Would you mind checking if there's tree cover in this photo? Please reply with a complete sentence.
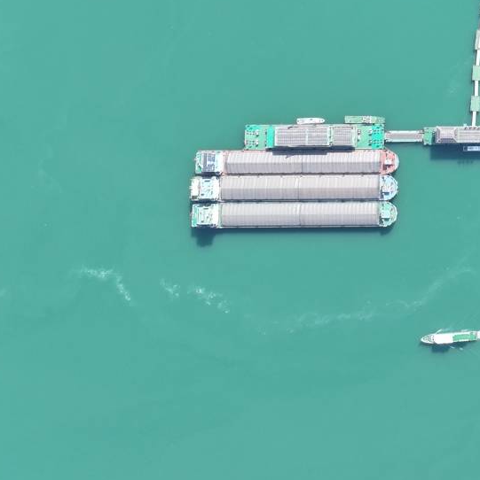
No, the picture contains no tree cover.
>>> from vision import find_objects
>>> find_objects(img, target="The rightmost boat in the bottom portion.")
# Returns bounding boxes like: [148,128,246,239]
[421,330,479,346]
